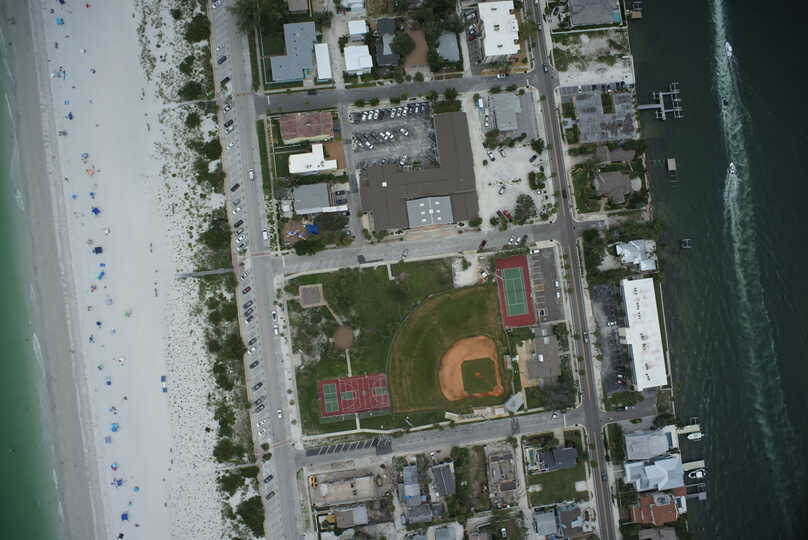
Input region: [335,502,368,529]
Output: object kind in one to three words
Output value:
house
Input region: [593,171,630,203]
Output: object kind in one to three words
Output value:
house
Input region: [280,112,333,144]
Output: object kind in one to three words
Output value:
building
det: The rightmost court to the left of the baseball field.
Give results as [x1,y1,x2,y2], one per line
[339,373,390,413]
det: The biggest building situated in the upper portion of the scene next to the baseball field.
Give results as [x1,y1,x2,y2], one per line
[360,111,481,231]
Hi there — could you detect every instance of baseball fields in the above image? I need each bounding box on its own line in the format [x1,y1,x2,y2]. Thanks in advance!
[388,284,513,413]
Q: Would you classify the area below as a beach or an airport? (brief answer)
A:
beach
